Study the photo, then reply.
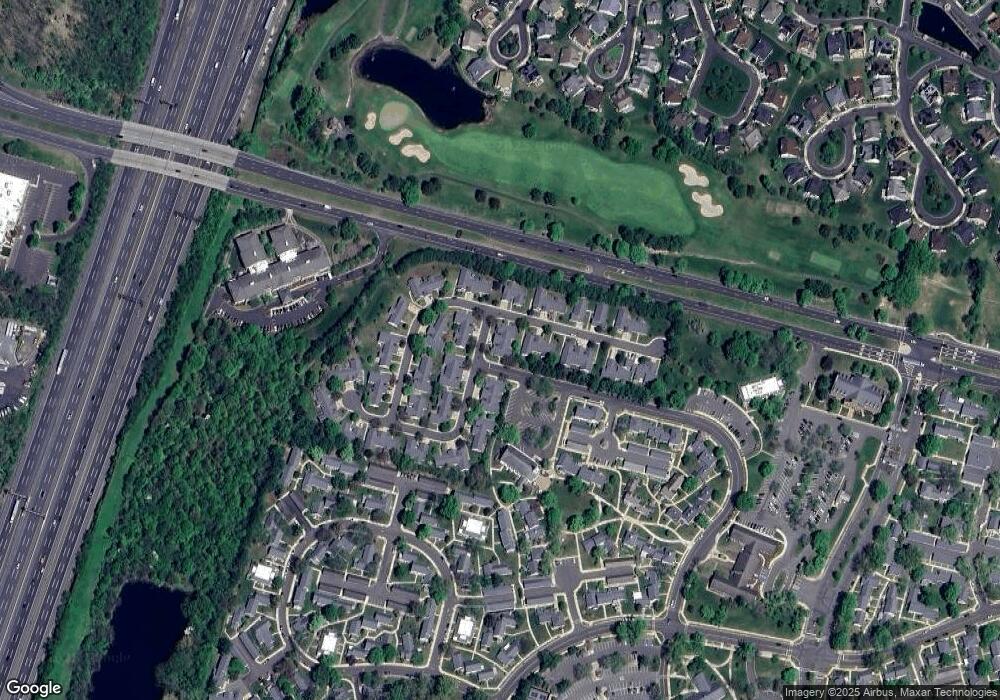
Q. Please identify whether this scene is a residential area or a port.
residential area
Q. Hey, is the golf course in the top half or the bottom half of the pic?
top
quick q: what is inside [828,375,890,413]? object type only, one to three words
building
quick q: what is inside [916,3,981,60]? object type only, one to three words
pond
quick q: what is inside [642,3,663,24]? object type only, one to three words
house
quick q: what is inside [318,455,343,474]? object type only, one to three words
house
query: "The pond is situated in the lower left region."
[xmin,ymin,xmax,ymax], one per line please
[89,580,187,700]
